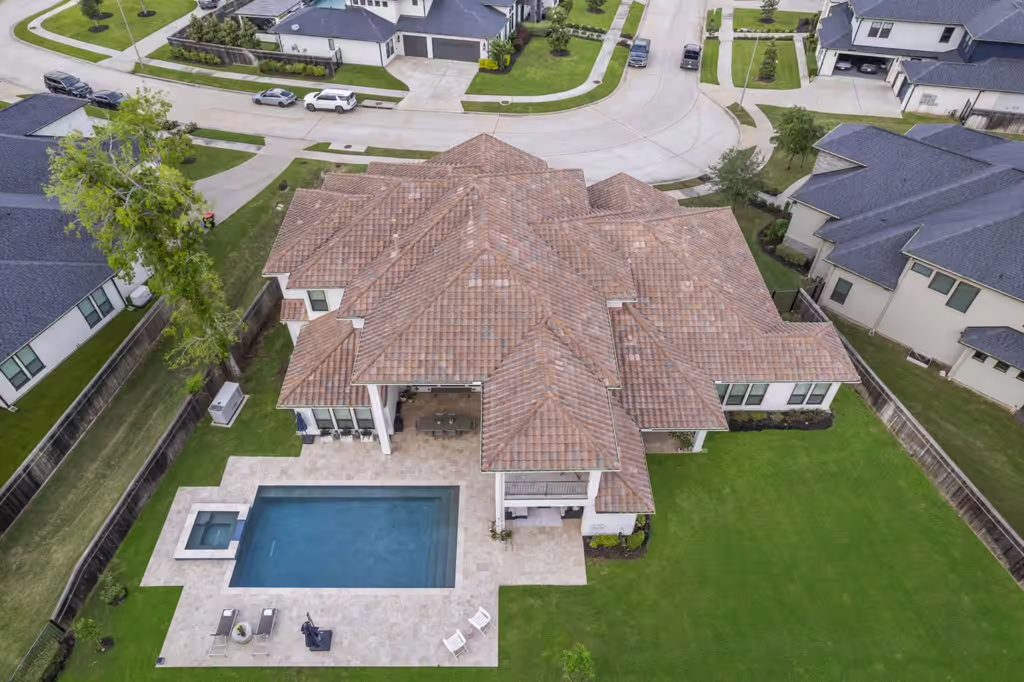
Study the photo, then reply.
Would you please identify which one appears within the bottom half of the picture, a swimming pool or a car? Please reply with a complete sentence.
Looking within the bottom half of the picture, you will find a swimming pool.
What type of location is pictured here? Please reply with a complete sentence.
What you see here is a residential area.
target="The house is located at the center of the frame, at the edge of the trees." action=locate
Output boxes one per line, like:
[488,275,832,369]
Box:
[260,131,864,536]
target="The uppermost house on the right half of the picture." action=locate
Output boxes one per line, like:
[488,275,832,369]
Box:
[802,0,1024,120]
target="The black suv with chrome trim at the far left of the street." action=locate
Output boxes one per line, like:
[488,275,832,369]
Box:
[42,68,97,98]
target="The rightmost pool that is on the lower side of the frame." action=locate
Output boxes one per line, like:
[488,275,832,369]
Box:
[220,480,466,594]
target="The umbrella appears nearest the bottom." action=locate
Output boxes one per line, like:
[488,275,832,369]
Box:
[300,606,334,650]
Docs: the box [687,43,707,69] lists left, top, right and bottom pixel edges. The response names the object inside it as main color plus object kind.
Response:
gray vehicle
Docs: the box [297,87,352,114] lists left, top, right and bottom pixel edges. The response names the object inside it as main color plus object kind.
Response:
white car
